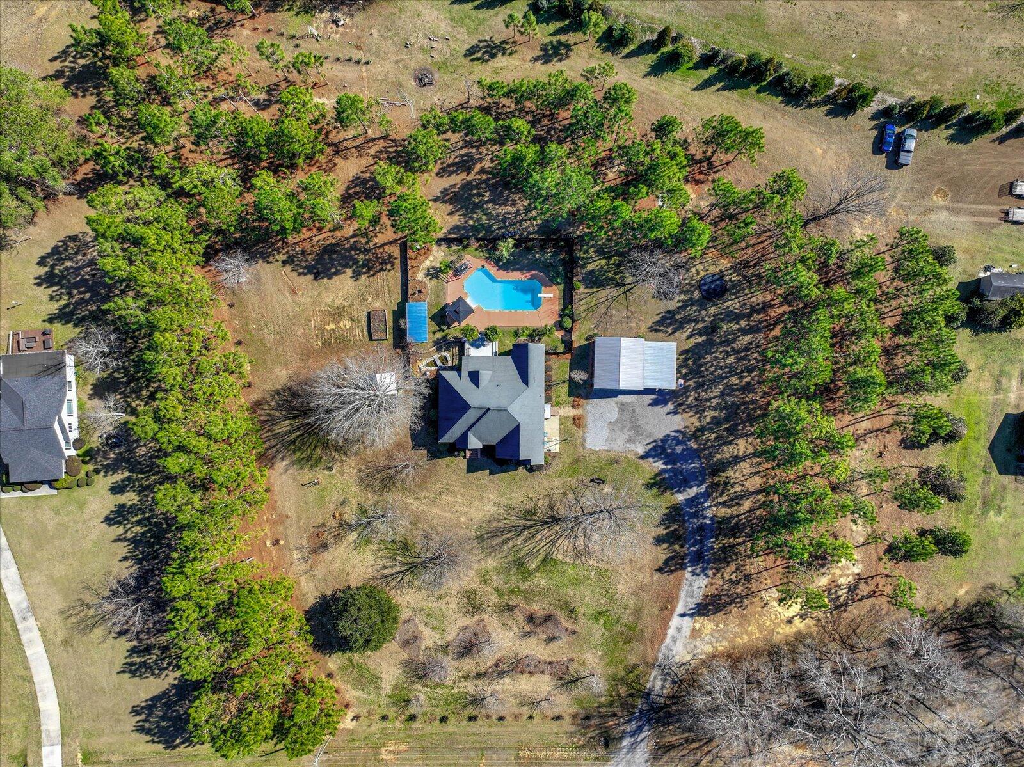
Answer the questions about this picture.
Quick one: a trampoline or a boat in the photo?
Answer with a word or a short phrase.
trampoline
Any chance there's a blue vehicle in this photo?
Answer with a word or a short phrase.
Yes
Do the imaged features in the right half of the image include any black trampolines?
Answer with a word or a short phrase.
Yes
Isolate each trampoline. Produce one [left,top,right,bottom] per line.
[699,272,728,300]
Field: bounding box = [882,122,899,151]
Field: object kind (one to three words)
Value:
car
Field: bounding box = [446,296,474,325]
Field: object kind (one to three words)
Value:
gazebo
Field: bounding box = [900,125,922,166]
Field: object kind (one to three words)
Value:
truck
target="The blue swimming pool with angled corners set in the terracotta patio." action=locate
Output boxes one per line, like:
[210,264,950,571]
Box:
[462,265,544,312]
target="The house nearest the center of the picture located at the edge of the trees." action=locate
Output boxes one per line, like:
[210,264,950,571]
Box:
[438,337,551,466]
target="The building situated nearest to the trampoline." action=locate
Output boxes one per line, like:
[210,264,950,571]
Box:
[593,337,677,389]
